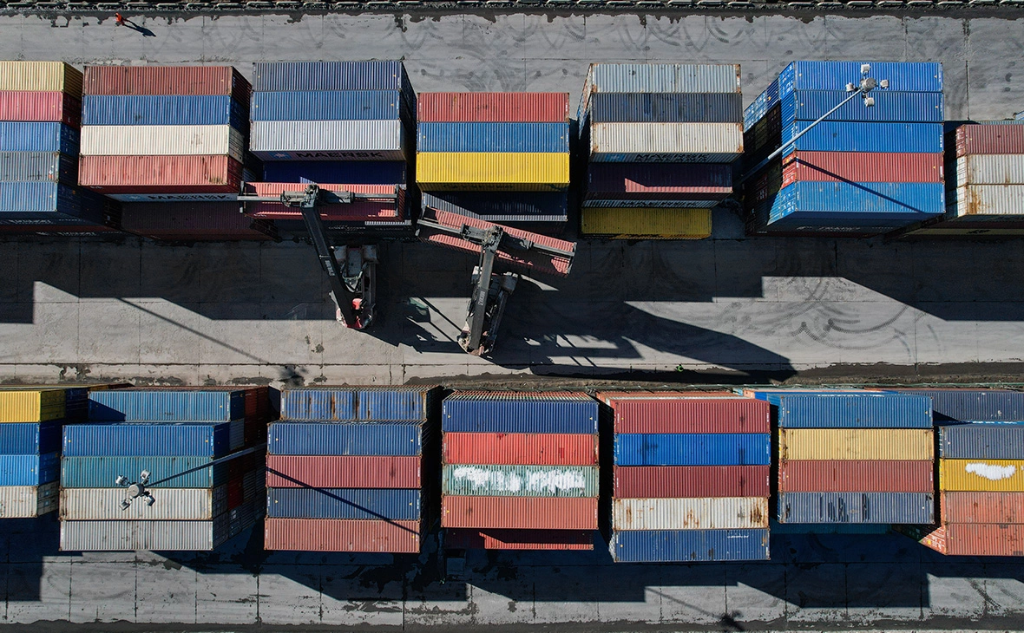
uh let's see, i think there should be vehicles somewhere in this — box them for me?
[415,202,575,358]
[241,181,400,330]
